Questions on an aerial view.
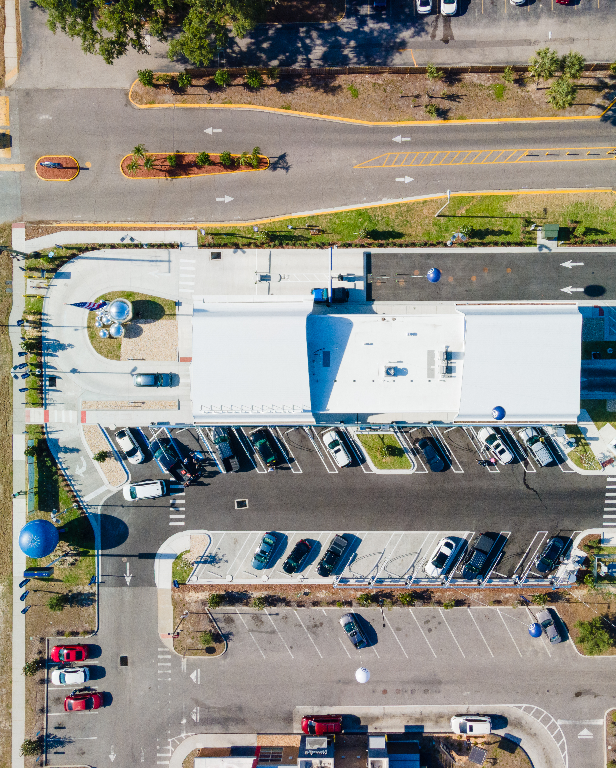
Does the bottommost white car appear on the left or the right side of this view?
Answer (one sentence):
It is on the right.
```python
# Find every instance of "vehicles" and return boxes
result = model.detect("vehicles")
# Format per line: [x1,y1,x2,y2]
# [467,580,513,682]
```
[535,535,564,575]
[114,425,146,465]
[414,0,431,15]
[149,436,193,486]
[426,535,456,576]
[338,610,369,652]
[535,606,563,648]
[324,430,352,471]
[479,426,513,468]
[440,0,458,17]
[460,530,497,581]
[250,530,278,572]
[251,428,280,469]
[521,426,553,469]
[211,426,241,476]
[416,434,444,474]
[134,371,175,390]
[52,666,91,686]
[64,691,104,712]
[283,537,310,576]
[302,715,342,738]
[315,532,349,578]
[122,480,167,503]
[450,714,492,737]
[51,643,91,664]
